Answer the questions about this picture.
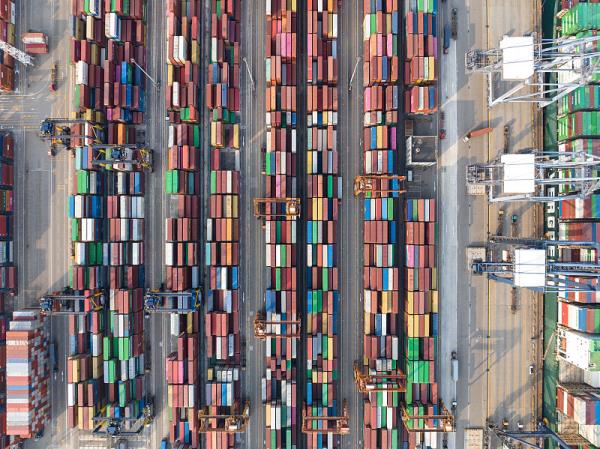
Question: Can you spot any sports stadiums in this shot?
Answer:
No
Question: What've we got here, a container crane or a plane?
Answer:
container crane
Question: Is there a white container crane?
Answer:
Yes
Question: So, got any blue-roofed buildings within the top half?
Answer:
No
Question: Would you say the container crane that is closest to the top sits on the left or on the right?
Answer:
right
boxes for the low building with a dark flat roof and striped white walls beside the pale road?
[409,137,437,165]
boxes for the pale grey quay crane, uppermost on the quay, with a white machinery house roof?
[468,32,600,116]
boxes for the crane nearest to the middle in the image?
[250,197,303,221]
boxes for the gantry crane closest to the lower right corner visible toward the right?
[488,417,572,449]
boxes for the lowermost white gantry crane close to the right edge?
[468,234,600,286]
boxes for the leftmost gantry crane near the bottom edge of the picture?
[91,395,155,436]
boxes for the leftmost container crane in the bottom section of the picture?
[38,285,109,314]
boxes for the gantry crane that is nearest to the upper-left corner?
[38,118,110,149]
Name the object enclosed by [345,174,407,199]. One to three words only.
container crane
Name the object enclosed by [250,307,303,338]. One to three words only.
container crane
